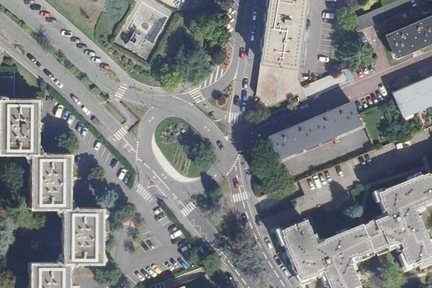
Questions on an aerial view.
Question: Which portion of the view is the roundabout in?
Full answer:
The roundabout is in the center part of the image.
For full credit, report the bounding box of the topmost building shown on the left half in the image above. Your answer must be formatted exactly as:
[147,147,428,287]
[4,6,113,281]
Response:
[114,0,174,62]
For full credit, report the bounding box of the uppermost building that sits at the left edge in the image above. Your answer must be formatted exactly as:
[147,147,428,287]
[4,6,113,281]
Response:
[0,98,44,158]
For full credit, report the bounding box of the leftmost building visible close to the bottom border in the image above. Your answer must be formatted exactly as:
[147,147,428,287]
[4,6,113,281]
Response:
[26,262,76,288]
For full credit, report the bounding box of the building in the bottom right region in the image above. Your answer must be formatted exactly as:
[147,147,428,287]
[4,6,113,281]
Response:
[280,169,432,288]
